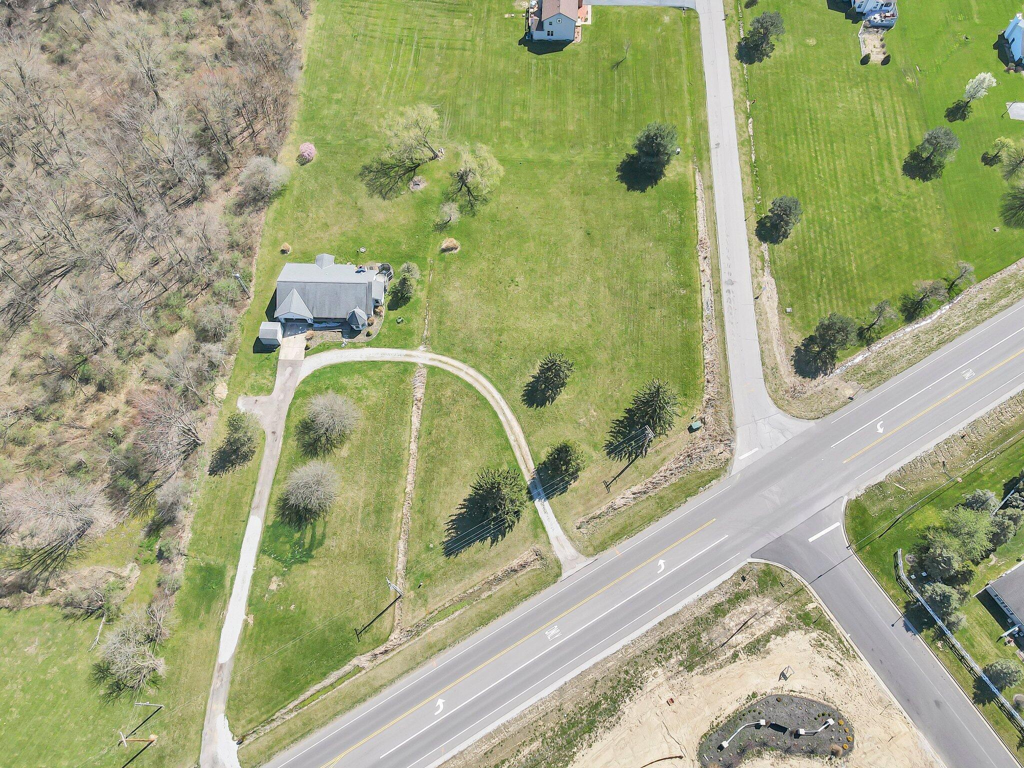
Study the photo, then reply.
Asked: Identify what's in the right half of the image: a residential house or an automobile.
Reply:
residential house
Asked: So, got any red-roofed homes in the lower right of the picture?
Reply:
No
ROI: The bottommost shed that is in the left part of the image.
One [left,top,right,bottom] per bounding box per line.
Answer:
[258,321,284,345]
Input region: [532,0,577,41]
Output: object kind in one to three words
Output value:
house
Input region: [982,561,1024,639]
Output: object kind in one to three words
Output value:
house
